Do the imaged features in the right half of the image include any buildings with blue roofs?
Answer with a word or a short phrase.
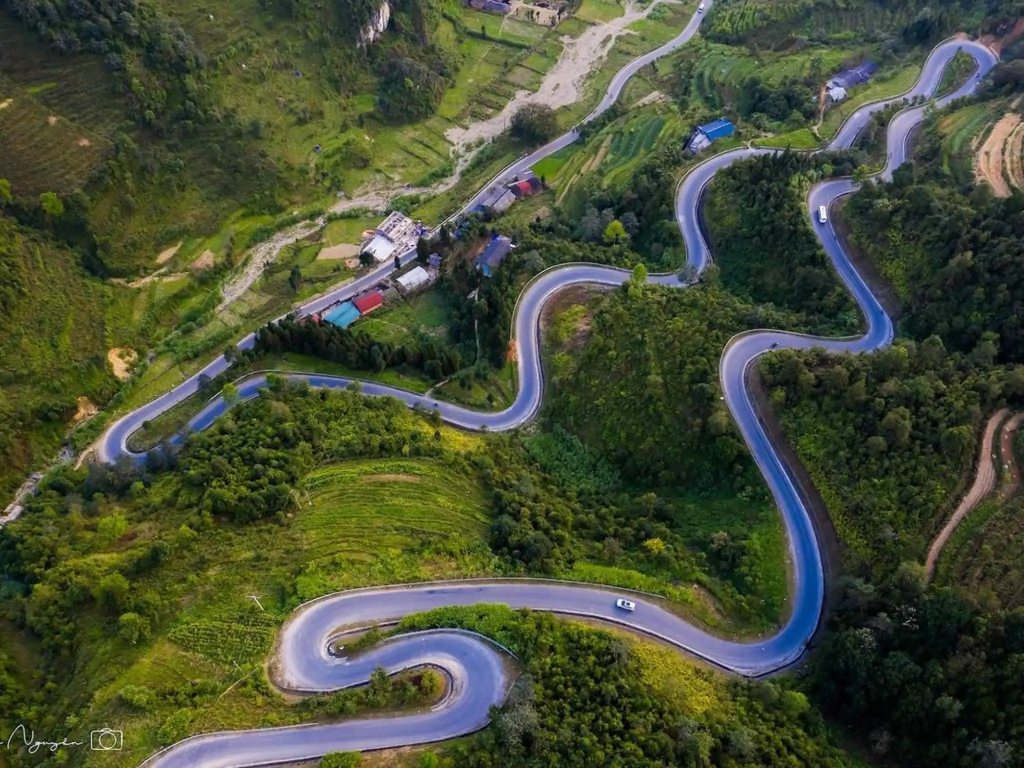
Yes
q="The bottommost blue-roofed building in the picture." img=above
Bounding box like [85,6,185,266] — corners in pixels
[326,302,364,331]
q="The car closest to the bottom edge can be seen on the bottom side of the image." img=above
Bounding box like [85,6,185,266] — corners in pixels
[615,599,636,612]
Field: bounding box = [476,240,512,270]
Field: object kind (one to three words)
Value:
house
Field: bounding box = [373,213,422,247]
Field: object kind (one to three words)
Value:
building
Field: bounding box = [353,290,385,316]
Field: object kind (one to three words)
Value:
house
